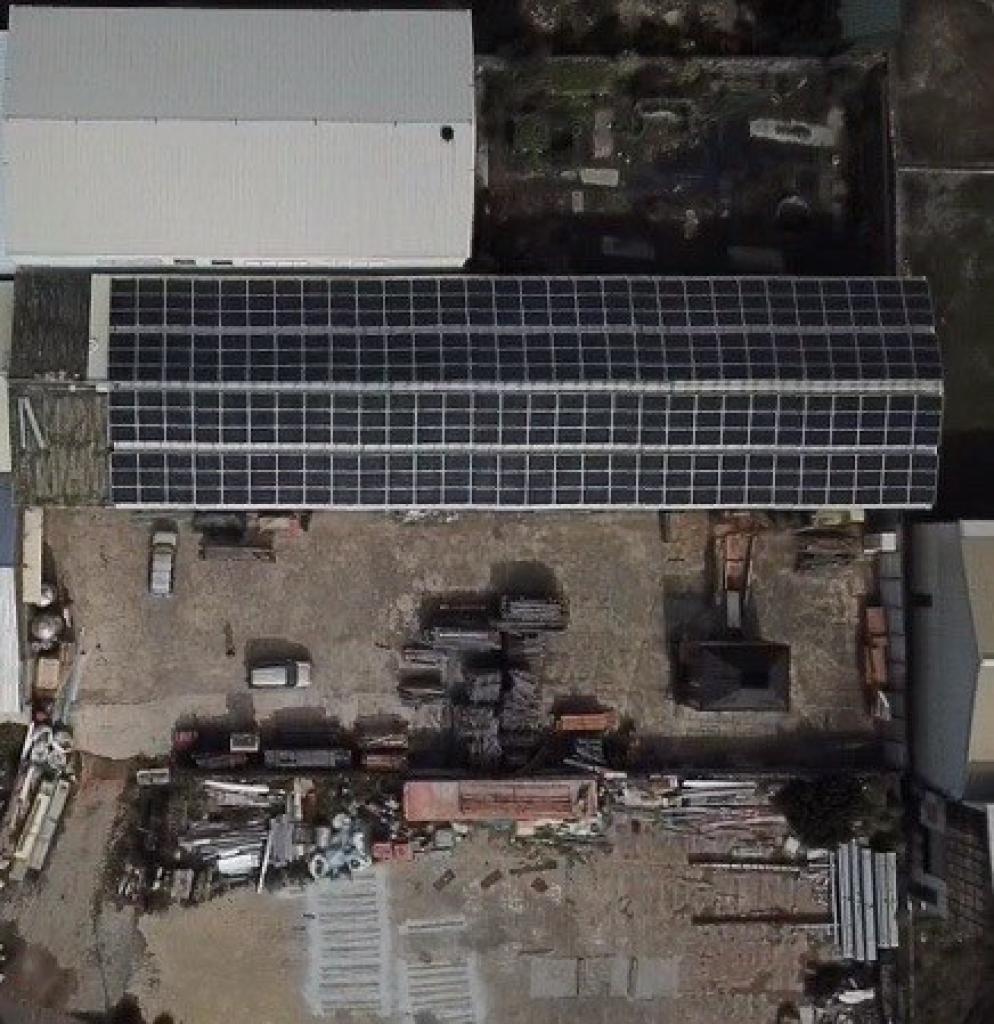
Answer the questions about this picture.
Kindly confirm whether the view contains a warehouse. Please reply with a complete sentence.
Yes, the image includes a warehouse.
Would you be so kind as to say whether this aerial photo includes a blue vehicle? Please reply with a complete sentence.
No, the frame has no blue vehicle in it.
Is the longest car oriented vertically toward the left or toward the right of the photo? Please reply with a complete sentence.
The longest car oriented vertically is on the left side of the image.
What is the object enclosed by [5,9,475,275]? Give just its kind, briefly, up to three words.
warehouse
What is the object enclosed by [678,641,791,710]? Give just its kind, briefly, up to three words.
shed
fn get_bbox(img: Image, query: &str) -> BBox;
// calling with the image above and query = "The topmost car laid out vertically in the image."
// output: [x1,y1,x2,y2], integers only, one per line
[150,530,181,596]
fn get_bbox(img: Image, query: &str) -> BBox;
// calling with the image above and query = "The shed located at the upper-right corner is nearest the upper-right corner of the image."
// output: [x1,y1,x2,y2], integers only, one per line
[828,0,900,62]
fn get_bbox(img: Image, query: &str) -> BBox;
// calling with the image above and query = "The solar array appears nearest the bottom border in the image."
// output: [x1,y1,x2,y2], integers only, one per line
[111,453,938,505]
